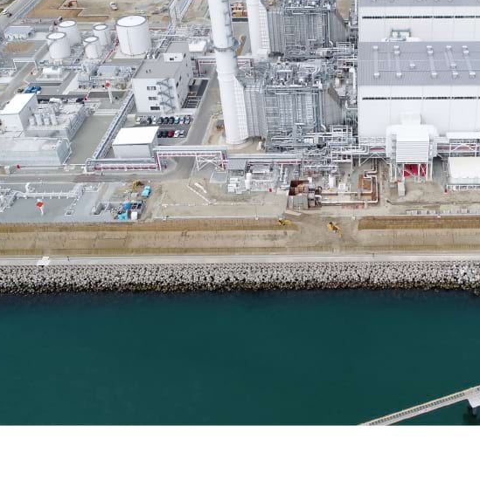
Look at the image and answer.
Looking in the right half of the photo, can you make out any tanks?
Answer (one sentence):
No, I see no tank in the right half of the photo.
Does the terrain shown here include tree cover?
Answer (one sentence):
No, the scene doesn't show any tree cover.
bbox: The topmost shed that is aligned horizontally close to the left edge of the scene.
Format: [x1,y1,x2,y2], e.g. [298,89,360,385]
[2,26,40,40]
